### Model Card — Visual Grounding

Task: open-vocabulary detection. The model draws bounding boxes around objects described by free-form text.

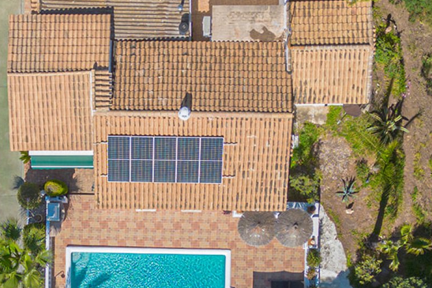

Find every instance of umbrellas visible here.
[270,203,314,247]
[236,206,276,248]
